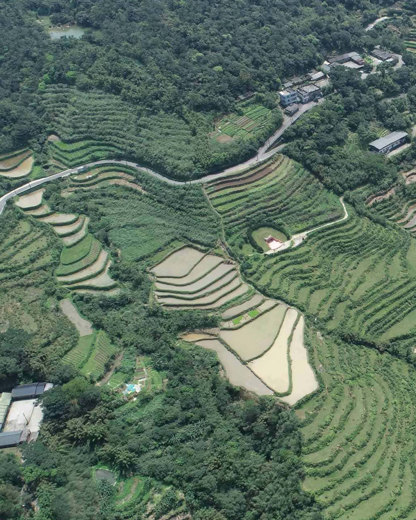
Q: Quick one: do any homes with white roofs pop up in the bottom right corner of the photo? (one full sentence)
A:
No, in the bottom right corner of the photo there is no home with a white roof.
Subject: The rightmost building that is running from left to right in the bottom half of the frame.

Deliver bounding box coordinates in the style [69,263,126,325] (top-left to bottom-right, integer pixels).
[12,384,47,401]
